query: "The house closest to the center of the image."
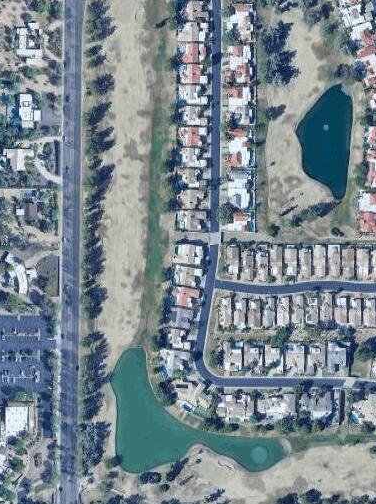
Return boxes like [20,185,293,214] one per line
[174,243,203,266]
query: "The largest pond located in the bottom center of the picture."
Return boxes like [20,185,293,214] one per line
[111,344,288,474]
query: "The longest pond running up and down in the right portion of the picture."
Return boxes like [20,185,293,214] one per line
[296,82,355,200]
